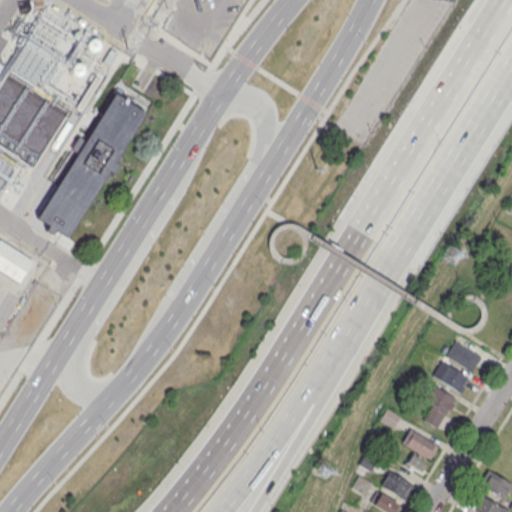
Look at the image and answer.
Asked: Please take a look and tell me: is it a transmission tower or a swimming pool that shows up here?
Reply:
transmission tower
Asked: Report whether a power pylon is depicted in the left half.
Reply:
No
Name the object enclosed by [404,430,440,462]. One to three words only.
house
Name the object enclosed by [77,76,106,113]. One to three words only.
shed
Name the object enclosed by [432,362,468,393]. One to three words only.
house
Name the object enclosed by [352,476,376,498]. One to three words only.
building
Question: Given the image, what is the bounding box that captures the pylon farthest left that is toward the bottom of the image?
[314,460,337,481]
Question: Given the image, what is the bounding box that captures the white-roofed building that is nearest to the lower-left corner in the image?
[0,242,38,290]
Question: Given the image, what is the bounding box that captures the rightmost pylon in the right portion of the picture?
[446,246,470,266]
